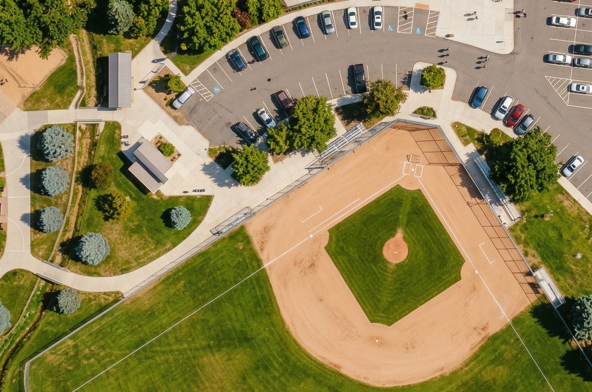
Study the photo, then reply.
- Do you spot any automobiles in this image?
Yes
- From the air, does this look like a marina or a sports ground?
sports ground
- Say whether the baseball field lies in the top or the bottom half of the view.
bottom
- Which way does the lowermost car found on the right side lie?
at an angle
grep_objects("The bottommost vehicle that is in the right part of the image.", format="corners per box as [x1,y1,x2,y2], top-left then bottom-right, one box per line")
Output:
[564,154,584,177]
